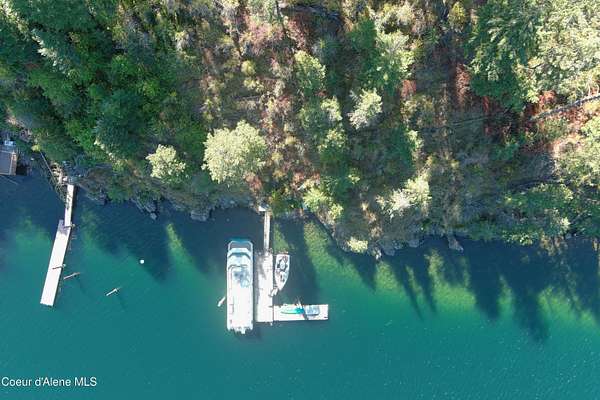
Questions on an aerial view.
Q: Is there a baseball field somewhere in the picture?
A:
No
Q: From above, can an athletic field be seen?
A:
No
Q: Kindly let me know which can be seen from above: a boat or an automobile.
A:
boat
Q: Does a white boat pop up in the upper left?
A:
No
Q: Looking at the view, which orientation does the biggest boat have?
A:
vertically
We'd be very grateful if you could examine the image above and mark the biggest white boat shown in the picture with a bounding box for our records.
[227,238,254,338]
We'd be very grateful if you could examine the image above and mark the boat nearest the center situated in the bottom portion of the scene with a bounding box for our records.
[275,248,291,292]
